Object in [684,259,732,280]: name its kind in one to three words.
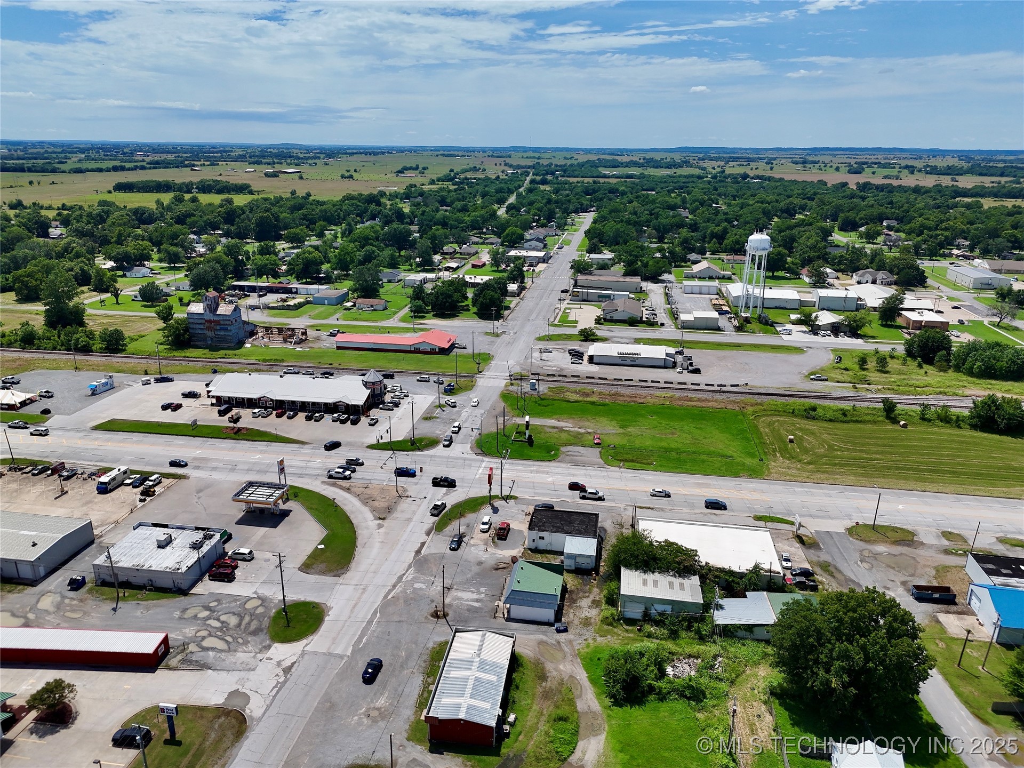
building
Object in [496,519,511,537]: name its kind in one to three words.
vehicle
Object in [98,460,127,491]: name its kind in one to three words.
camper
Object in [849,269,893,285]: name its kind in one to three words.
house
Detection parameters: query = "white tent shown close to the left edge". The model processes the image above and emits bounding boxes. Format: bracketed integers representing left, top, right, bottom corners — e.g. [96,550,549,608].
[0,381,37,410]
